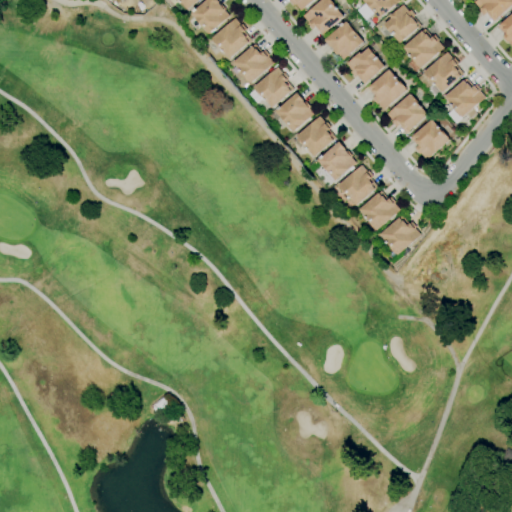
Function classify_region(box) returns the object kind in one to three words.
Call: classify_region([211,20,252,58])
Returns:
house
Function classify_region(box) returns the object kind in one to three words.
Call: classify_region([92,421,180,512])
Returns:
pond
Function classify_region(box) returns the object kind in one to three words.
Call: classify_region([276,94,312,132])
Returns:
house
